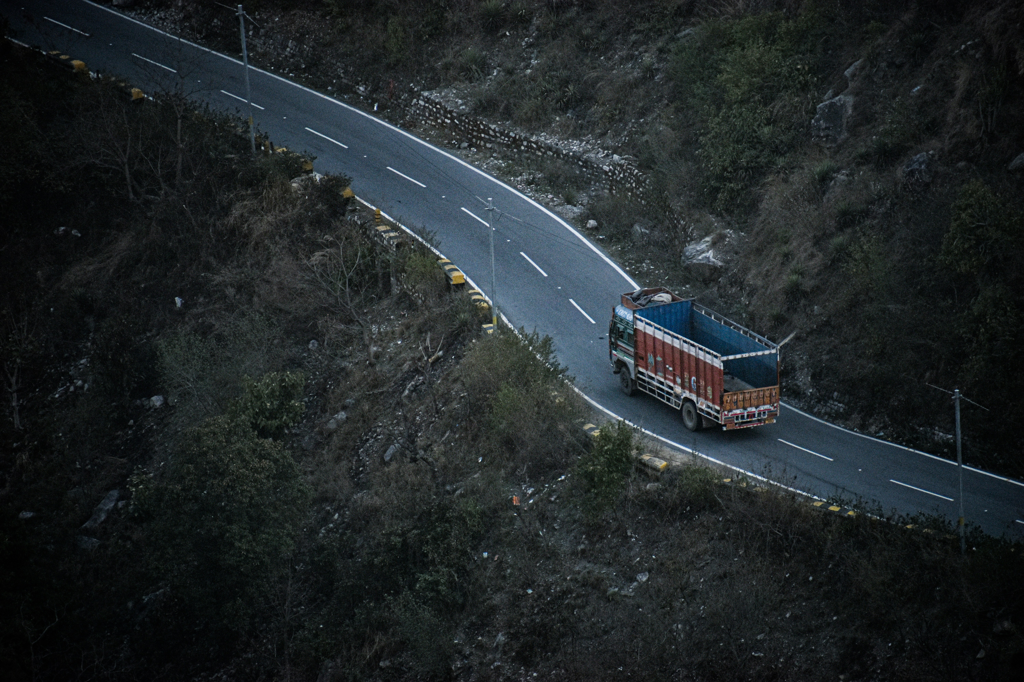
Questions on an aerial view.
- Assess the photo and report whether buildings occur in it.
No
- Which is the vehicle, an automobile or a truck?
truck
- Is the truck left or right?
right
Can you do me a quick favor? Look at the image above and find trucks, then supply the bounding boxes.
[606,287,801,433]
